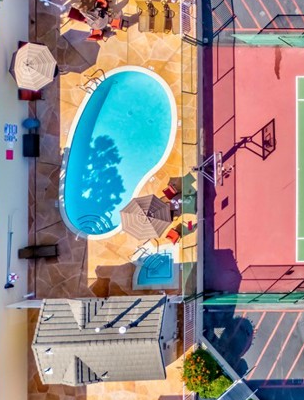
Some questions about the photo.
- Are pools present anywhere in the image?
Yes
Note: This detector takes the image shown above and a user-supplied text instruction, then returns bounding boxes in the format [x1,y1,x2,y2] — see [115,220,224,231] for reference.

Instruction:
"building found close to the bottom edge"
[30,297,179,386]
